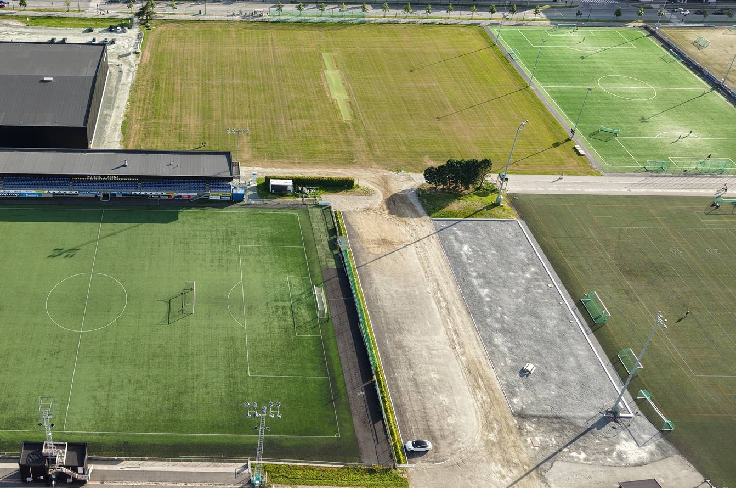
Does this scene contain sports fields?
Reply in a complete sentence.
Yes, a sports field is visible in the scene.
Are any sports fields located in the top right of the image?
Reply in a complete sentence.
Yes, looking in the top right of the image, one can make out a sports field.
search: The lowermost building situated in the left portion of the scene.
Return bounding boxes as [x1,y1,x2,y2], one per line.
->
[17,437,91,488]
